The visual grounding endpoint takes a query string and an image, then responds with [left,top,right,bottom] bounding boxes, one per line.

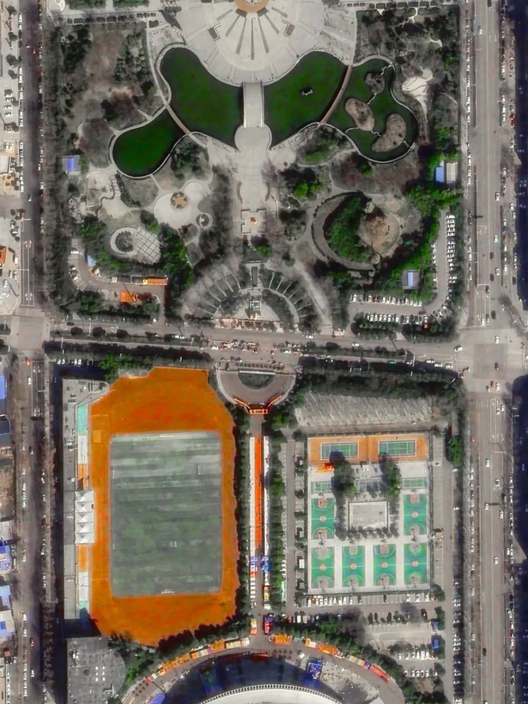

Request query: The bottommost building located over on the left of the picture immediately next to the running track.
[66,638,125,704]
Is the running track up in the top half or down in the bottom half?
bottom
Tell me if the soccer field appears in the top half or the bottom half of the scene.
bottom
